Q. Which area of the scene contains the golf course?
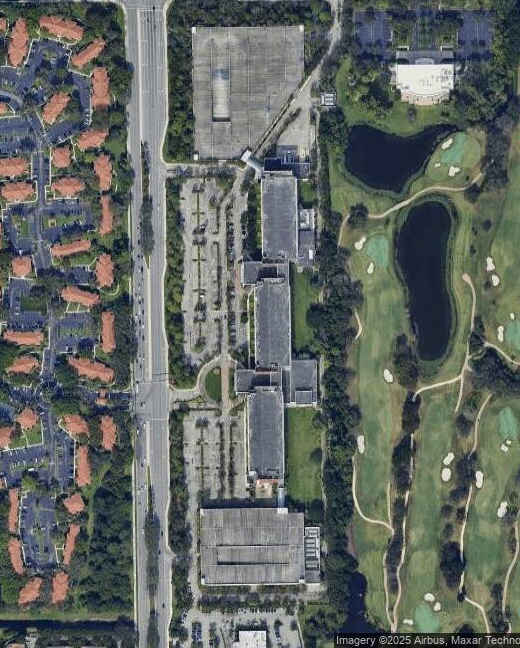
right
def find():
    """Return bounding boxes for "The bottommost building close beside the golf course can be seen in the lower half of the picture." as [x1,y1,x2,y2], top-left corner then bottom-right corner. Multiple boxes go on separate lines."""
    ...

[200,507,305,586]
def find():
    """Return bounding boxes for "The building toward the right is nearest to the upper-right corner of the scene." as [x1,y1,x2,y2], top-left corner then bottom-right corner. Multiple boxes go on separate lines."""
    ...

[390,59,460,106]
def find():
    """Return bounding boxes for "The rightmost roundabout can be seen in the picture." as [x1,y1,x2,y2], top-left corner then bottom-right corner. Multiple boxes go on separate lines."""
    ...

[198,353,222,409]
